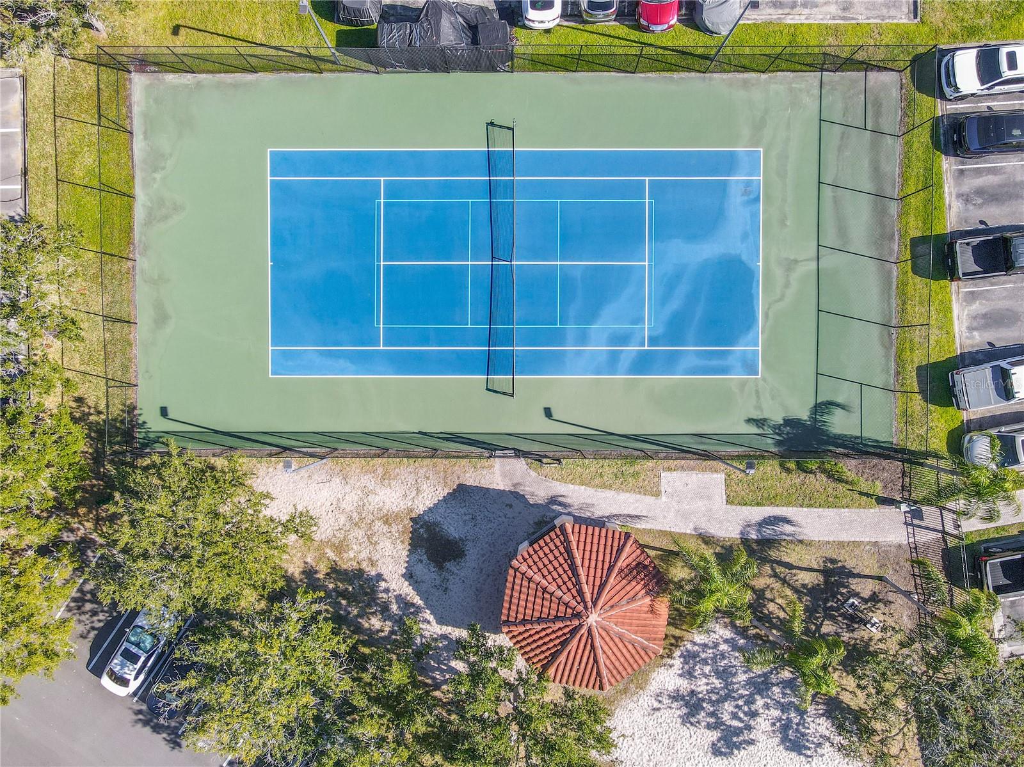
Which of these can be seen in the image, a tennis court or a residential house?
tennis court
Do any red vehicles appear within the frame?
Yes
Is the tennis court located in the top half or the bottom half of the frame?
top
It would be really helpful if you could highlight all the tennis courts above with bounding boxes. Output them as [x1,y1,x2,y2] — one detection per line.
[130,69,903,455]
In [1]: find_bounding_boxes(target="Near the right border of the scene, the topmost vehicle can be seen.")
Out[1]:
[939,41,1024,97]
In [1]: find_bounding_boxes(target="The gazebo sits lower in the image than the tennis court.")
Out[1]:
[499,514,672,693]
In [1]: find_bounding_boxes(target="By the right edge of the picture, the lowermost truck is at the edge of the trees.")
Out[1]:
[973,544,1024,598]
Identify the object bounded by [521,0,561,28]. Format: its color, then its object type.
white car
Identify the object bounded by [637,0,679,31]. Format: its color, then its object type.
red car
